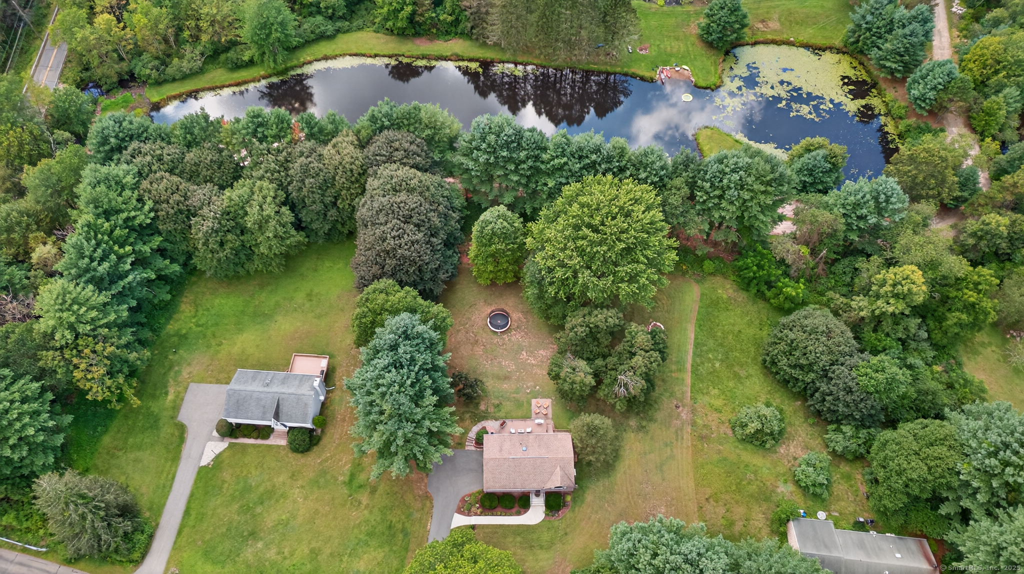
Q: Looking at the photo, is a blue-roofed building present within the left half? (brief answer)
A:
No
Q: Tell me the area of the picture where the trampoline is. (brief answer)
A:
center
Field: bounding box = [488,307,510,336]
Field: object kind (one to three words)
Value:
trampoline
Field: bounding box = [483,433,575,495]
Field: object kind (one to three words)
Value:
house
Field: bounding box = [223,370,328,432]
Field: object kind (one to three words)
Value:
house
